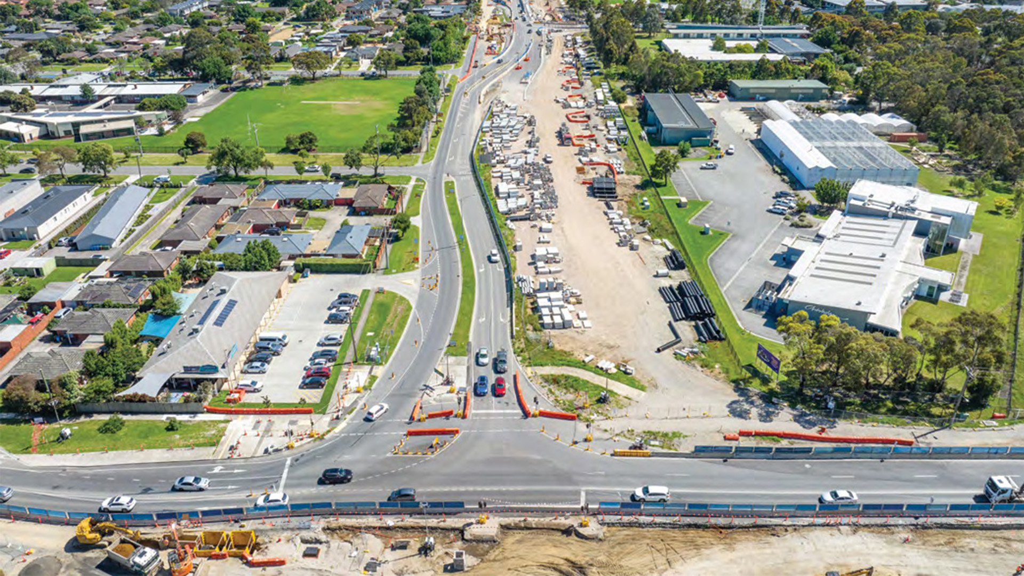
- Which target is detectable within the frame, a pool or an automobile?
automobile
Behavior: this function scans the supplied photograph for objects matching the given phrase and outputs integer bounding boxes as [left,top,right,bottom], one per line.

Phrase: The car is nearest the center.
[488,247,500,263]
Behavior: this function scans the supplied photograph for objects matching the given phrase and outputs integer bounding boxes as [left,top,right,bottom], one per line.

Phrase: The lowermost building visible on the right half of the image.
[776,179,977,351]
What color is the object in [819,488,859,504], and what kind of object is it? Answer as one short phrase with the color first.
white car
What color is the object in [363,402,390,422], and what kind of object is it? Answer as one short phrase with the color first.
white car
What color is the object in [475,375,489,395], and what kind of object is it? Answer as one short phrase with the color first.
blue car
